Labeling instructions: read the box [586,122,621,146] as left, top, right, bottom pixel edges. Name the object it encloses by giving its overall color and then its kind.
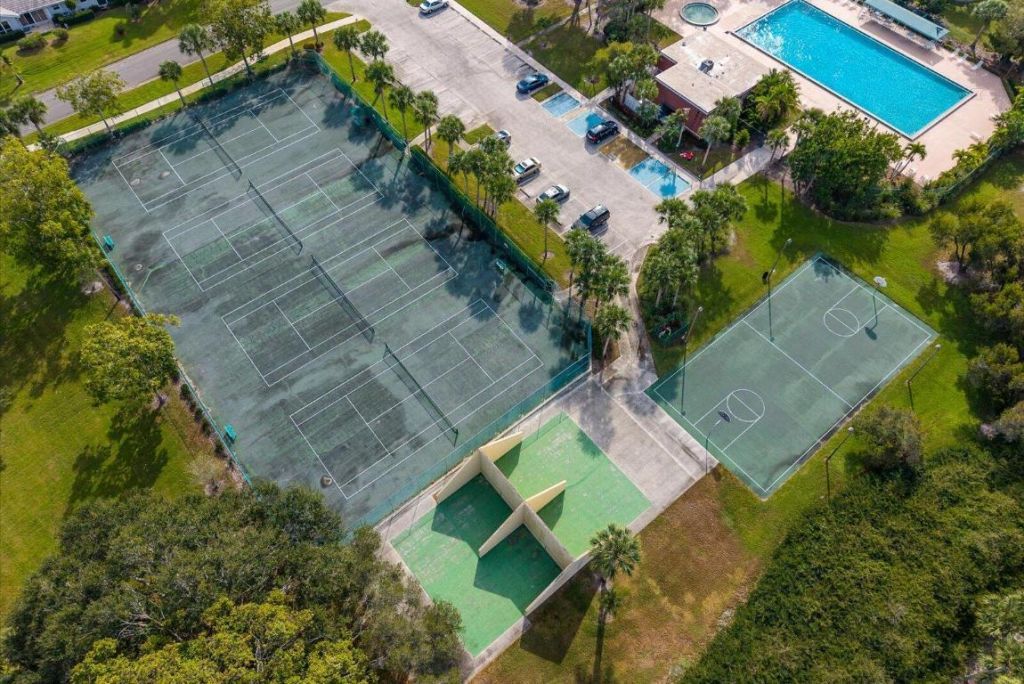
black car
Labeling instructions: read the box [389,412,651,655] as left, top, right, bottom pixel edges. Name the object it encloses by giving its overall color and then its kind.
green sports court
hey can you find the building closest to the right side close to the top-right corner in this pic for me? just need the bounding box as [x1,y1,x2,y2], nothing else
[862,0,951,54]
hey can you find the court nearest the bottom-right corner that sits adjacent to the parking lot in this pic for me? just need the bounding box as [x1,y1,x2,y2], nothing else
[642,250,943,503]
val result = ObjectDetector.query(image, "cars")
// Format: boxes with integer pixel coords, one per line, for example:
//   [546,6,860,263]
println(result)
[518,74,550,94]
[481,130,515,154]
[420,0,451,17]
[572,201,613,231]
[508,158,544,184]
[533,183,570,209]
[586,122,621,146]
